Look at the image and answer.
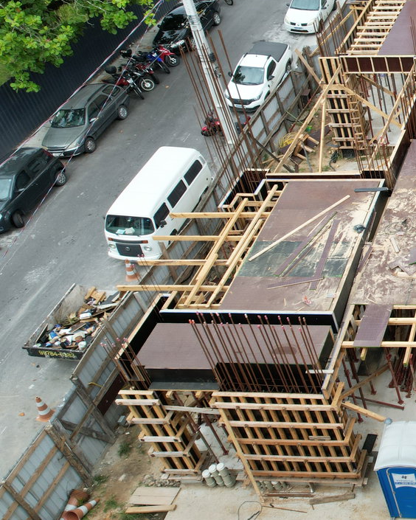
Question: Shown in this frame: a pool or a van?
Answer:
van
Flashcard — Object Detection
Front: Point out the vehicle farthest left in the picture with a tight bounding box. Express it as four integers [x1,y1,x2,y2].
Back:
[0,148,62,233]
